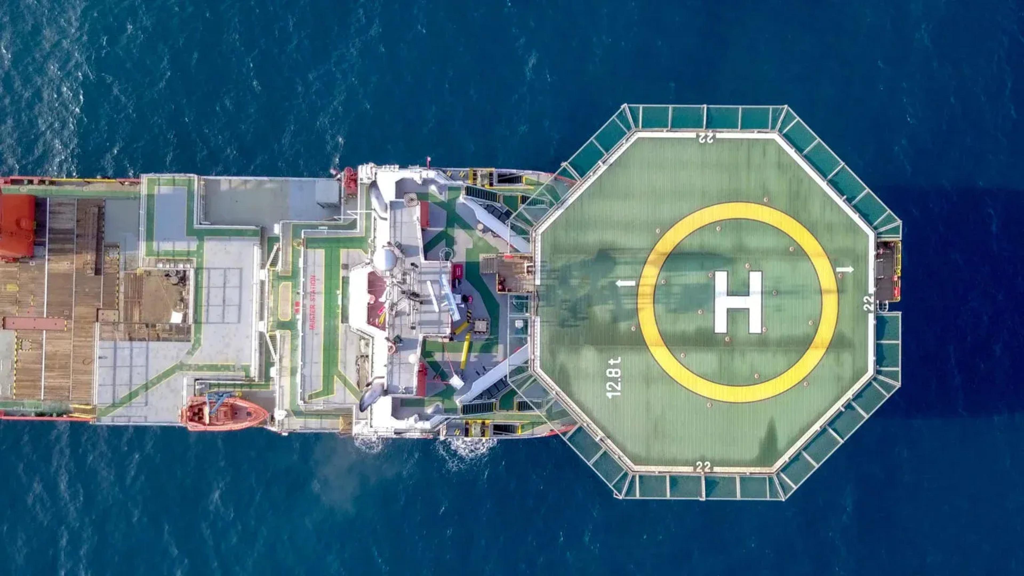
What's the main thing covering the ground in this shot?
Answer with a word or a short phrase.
water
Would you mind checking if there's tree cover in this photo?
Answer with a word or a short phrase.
No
